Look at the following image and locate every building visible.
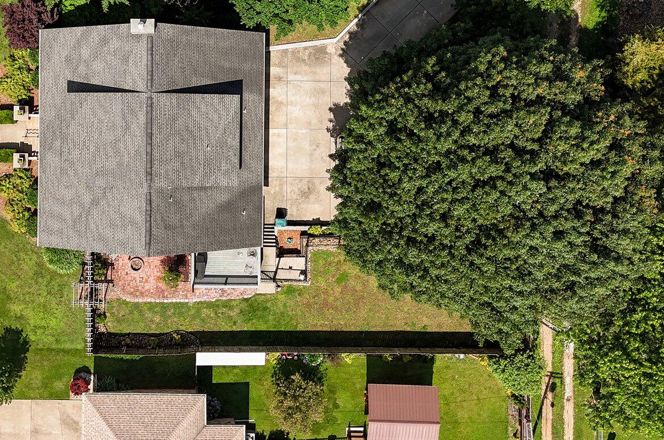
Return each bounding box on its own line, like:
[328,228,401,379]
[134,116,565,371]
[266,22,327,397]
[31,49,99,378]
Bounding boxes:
[37,19,266,258]
[81,385,246,440]
[363,380,440,440]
